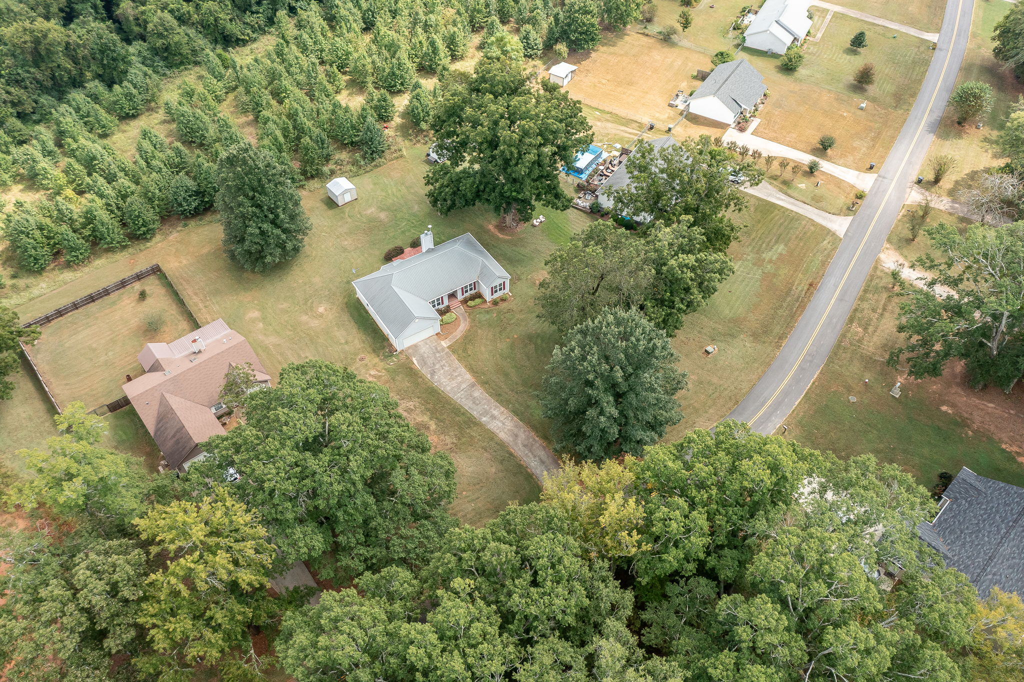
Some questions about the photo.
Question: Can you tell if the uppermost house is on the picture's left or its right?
right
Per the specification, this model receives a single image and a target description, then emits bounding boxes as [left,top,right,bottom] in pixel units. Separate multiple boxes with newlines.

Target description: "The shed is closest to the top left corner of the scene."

[328,180,358,206]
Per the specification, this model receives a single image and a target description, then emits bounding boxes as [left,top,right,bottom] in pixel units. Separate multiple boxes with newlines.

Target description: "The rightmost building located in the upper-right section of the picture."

[743,0,814,52]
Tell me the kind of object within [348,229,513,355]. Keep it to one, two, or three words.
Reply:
house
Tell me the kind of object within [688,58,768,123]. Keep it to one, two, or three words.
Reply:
house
